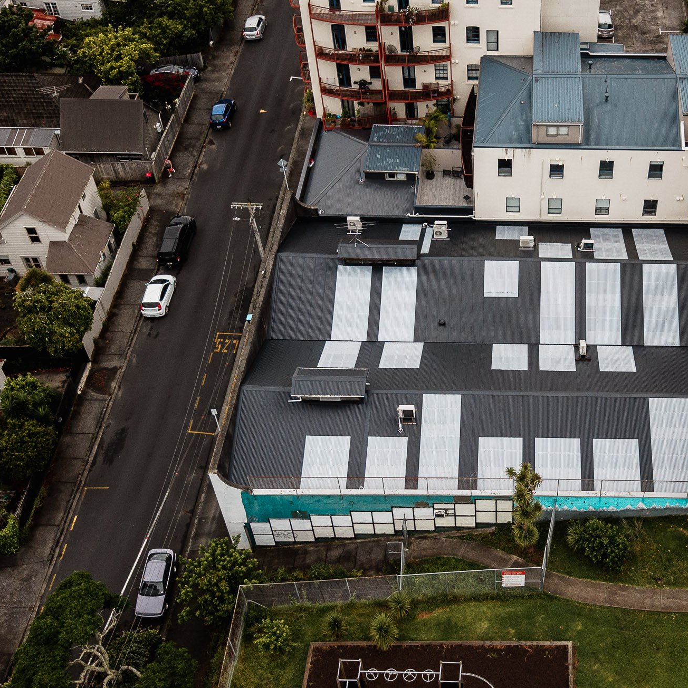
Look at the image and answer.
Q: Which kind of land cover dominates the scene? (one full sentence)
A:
The bulk of the photo consists of buildings.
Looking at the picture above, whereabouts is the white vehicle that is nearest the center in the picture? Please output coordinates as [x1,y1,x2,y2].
[139,278,178,322]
